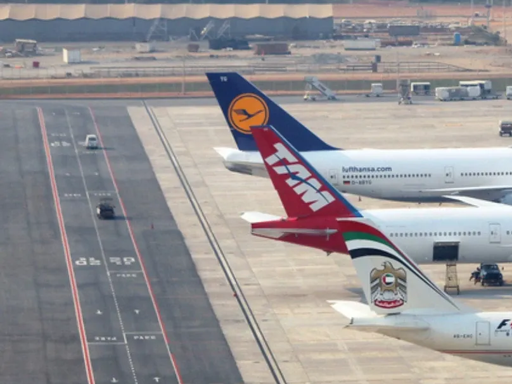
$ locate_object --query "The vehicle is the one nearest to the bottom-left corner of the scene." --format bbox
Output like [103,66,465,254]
[96,199,116,218]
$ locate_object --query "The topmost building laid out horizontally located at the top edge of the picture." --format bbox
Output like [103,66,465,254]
[0,0,334,45]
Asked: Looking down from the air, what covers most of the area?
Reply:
paved ground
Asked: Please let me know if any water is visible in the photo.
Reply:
No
